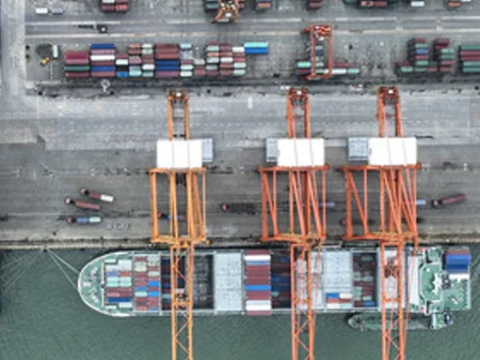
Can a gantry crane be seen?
Yes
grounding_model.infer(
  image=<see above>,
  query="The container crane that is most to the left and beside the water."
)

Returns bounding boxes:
[146,87,208,360]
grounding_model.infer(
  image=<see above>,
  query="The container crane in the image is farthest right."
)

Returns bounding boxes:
[336,83,419,360]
